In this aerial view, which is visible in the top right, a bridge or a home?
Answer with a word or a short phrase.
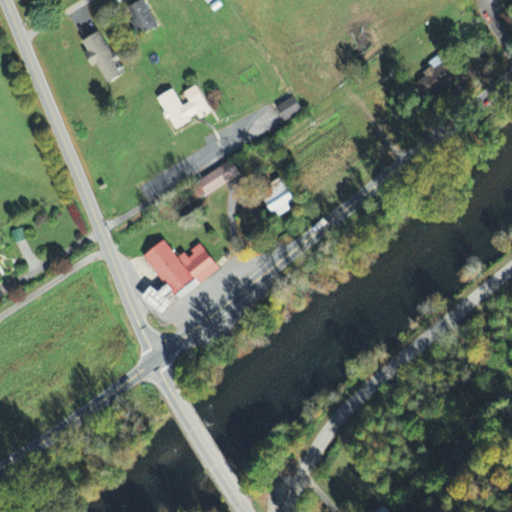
home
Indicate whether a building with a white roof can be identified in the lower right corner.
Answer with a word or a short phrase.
No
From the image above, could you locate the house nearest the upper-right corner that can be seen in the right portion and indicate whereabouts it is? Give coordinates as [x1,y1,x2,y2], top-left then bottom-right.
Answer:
[418,54,450,90]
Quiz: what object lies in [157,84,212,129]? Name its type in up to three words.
house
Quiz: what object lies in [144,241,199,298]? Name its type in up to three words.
building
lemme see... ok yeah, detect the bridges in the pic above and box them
[163,387,252,512]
